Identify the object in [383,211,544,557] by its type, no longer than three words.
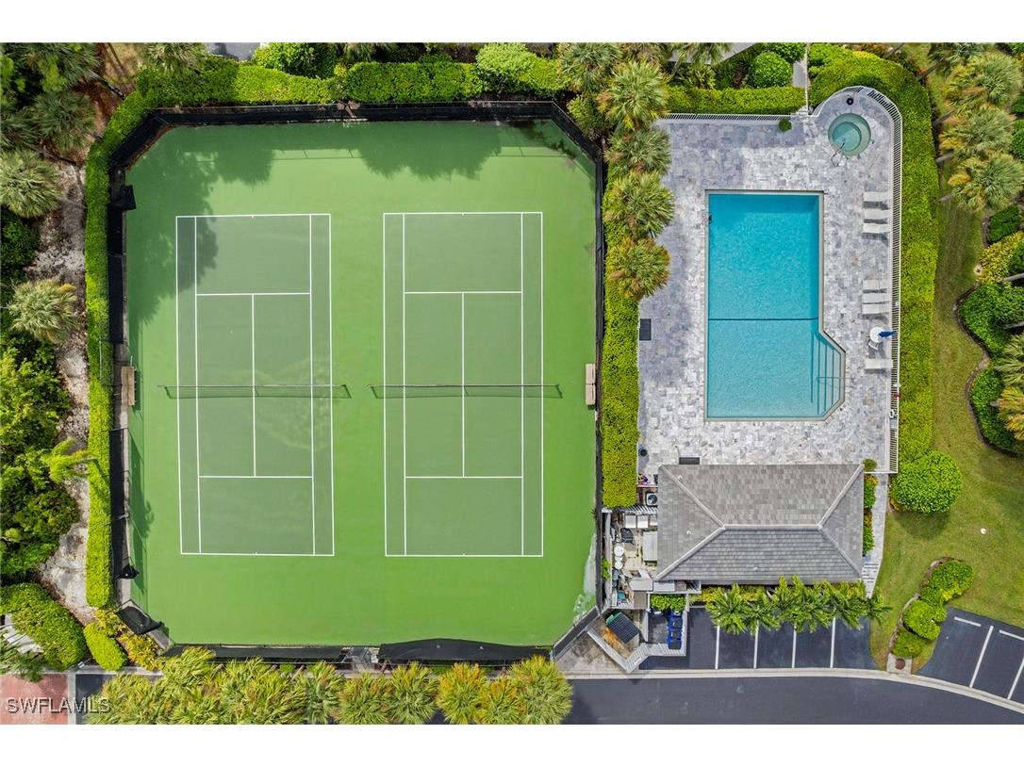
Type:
tennis court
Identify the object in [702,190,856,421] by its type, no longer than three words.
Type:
swimming pool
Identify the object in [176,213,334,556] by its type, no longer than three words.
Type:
tennis court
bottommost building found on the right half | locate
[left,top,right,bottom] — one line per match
[655,462,867,585]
